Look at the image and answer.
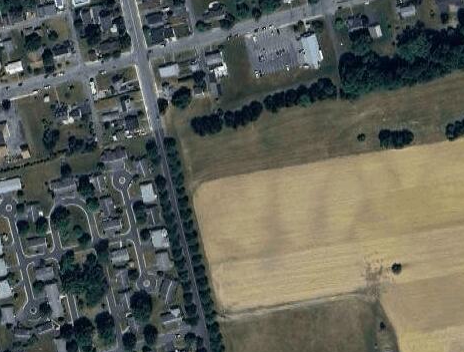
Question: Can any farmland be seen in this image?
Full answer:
Yes, some farmland is visible.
